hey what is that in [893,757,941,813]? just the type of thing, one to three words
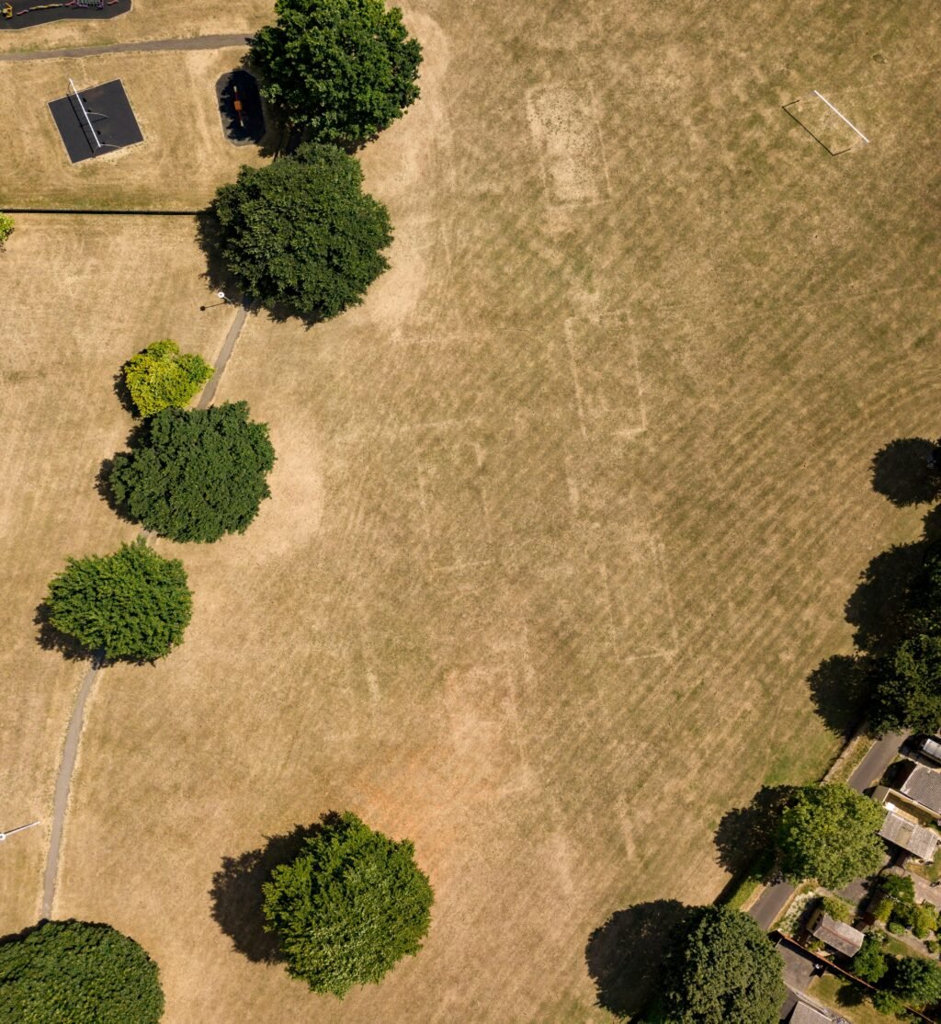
building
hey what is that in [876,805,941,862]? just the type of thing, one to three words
building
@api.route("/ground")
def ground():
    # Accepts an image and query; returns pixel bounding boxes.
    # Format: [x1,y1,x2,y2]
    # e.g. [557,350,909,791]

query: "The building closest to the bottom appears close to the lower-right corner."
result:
[772,987,834,1024]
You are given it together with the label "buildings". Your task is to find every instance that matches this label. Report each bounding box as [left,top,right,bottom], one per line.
[876,805,941,862]
[893,757,941,813]
[772,987,834,1024]
[806,905,865,957]
[866,782,892,805]
[911,739,941,768]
